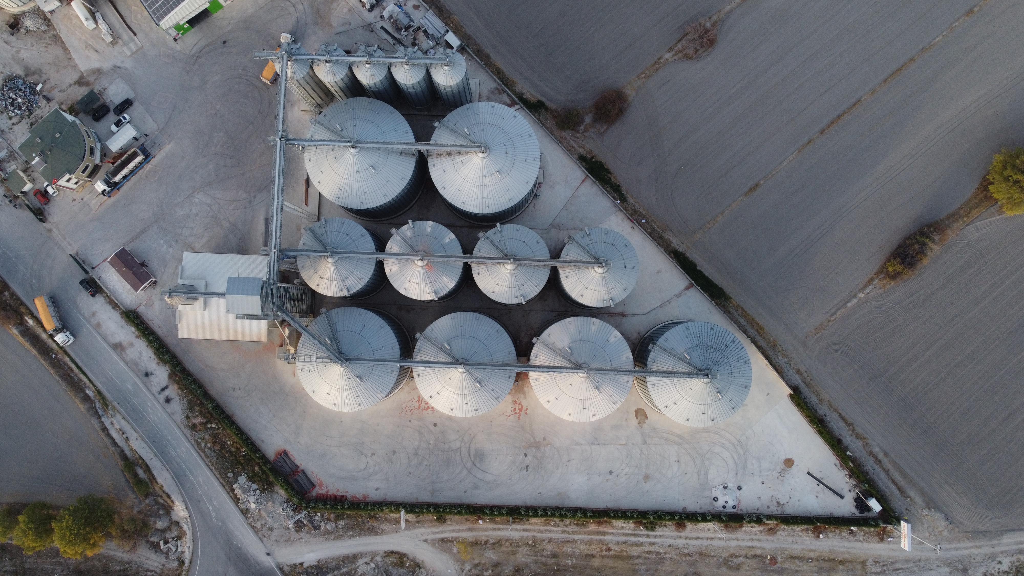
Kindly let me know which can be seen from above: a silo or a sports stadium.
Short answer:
silo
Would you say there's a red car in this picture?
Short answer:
Yes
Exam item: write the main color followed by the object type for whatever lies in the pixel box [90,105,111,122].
black car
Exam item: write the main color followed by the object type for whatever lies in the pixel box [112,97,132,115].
black car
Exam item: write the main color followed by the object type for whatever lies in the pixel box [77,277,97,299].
black vehicle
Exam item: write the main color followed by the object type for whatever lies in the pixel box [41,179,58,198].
white car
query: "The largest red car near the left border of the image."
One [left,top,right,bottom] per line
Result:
[32,189,48,205]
